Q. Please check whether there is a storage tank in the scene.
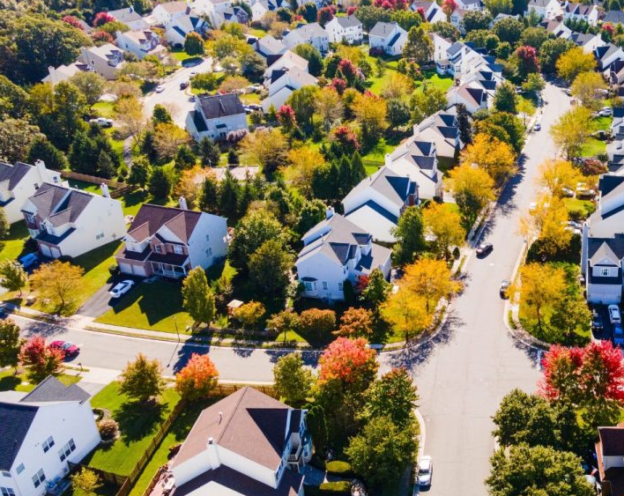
No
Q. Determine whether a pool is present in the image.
No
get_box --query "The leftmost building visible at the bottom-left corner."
[0,368,89,496]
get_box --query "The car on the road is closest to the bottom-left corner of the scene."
[53,341,81,357]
